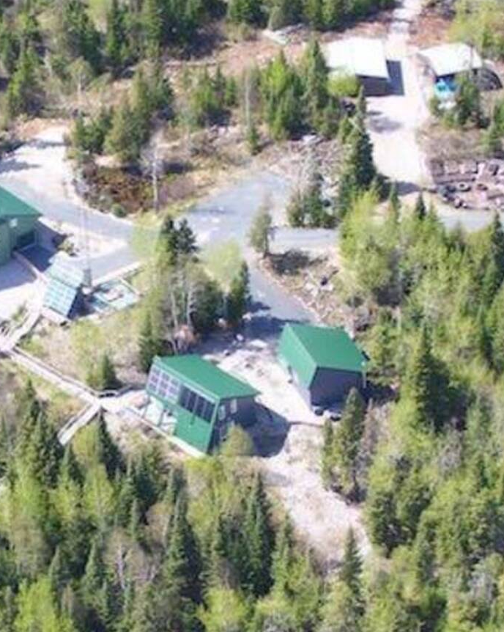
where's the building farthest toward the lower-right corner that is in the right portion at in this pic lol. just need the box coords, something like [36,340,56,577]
[276,323,365,412]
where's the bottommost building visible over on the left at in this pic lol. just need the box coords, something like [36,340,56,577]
[124,355,266,457]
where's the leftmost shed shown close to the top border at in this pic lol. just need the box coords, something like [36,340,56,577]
[329,31,394,95]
